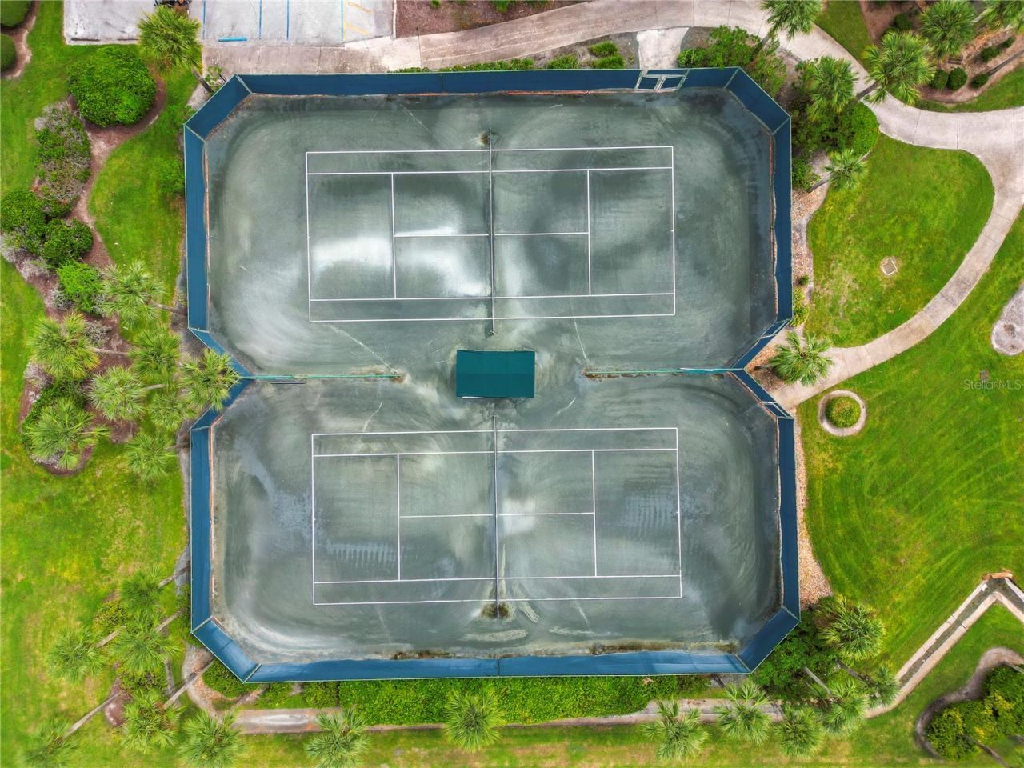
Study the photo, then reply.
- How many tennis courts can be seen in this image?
2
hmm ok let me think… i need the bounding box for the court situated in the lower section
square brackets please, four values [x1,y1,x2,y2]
[211,370,782,663]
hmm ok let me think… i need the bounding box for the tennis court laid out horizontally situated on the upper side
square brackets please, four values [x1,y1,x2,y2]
[205,88,776,376]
